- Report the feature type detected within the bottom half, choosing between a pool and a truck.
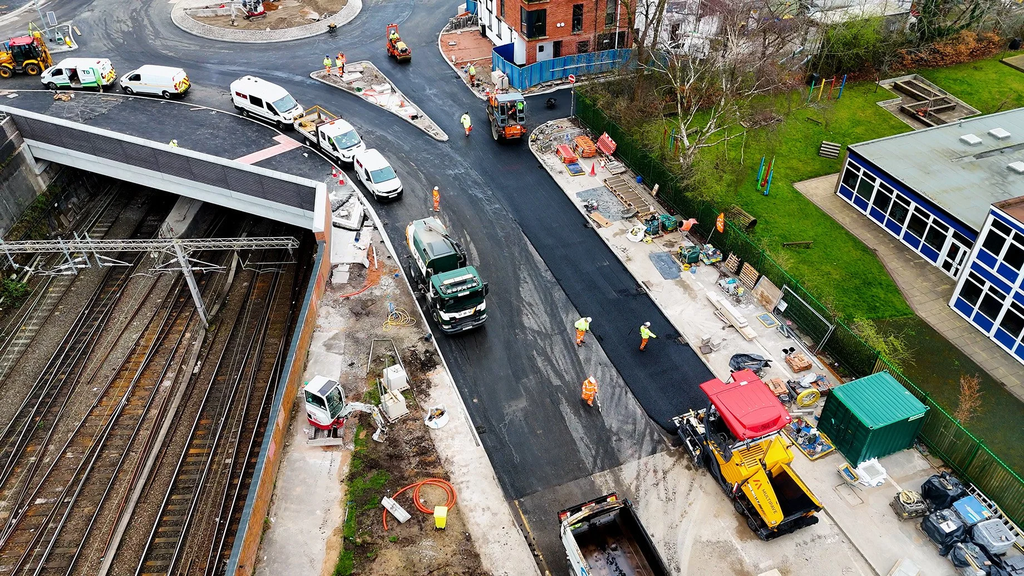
truck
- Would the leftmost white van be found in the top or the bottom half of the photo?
top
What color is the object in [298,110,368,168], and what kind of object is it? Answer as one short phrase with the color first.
white truck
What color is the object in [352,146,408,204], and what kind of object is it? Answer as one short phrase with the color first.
white van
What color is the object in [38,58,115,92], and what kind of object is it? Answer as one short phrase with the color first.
white van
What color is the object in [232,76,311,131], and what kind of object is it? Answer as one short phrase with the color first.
white vehicle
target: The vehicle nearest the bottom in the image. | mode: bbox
[552,491,675,576]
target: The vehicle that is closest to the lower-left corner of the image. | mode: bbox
[302,384,388,450]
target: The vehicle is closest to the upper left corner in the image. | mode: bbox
[0,30,63,78]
